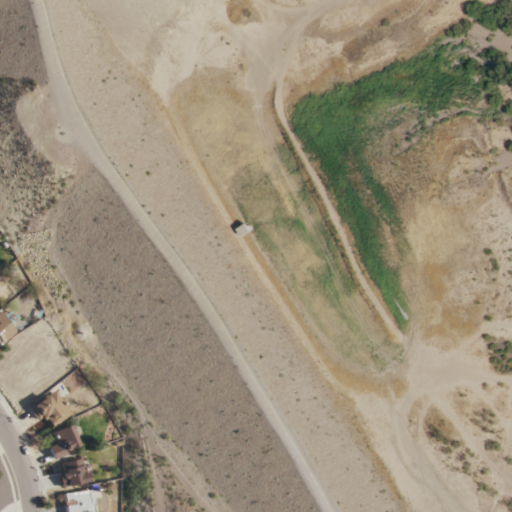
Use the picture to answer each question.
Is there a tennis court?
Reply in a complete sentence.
No, there is no tennis court in the image.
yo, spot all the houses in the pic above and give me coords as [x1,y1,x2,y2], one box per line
[38,388,76,426]
[64,458,96,486]
[59,490,96,512]
[0,316,16,348]
[51,426,84,462]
